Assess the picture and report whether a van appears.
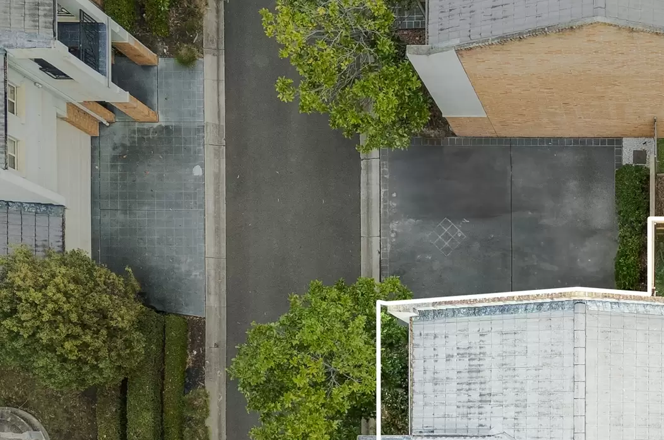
No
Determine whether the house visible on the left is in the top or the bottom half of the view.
top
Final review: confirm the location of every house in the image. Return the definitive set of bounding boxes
[356,300,664,440]
[405,0,664,136]
[0,0,130,280]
